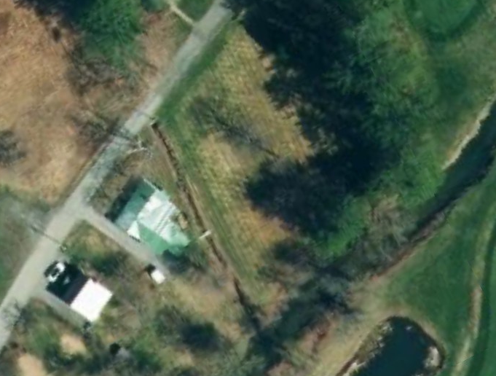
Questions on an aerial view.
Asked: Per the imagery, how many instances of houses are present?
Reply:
two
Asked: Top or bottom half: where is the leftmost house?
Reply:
bottom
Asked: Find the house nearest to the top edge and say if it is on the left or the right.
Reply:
left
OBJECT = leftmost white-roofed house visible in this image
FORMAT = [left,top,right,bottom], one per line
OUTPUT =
[56,270,110,322]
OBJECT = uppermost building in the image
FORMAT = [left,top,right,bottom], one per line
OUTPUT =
[113,180,189,255]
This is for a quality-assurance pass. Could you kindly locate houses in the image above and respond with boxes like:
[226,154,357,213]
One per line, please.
[113,180,189,255]
[56,270,110,322]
